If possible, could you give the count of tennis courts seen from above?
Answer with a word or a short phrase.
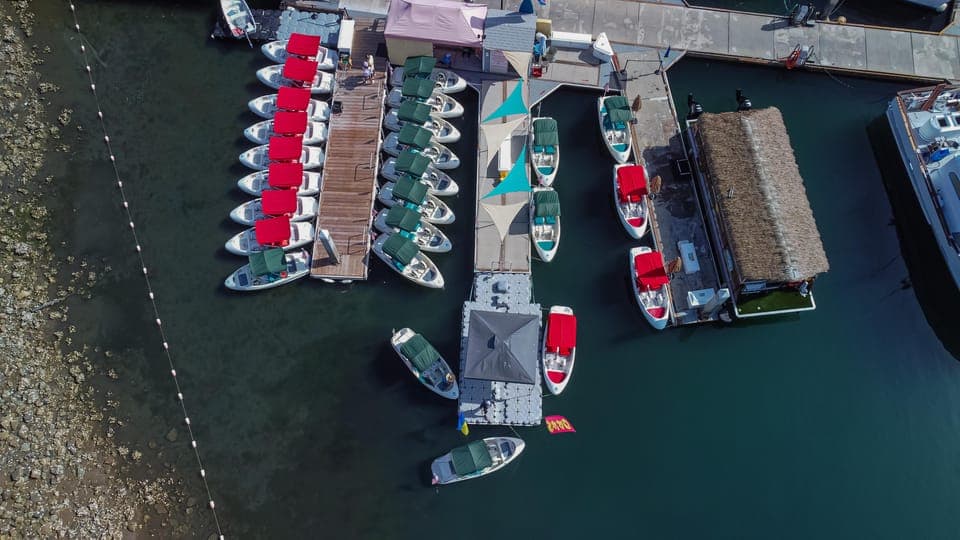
none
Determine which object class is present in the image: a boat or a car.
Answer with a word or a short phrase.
boat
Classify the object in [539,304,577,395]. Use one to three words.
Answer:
boat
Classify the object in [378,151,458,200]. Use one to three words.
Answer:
boat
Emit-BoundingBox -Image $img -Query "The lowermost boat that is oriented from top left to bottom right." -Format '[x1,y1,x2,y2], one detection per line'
[388,327,459,399]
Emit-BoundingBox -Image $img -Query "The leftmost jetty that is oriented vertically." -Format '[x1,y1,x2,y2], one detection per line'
[316,8,383,290]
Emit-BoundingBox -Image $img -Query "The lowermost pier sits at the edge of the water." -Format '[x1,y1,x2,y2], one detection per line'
[454,267,540,428]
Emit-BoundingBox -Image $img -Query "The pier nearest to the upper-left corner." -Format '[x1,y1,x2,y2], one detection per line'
[207,8,281,44]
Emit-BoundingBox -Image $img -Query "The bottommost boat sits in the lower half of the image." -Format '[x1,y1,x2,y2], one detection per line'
[423,436,525,488]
